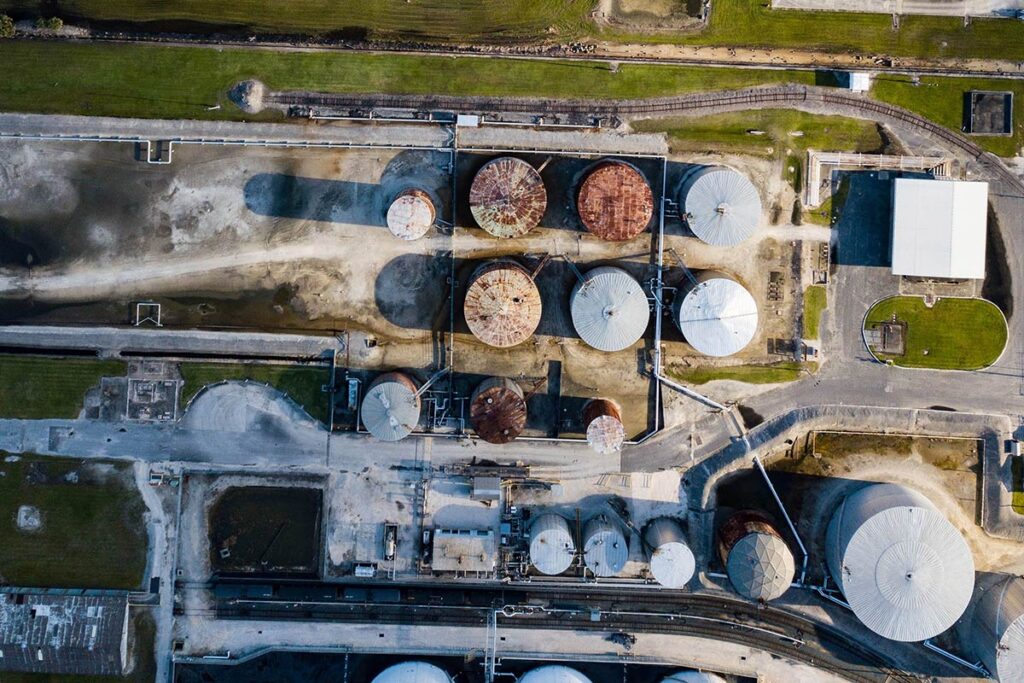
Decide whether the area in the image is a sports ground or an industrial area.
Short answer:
industrial area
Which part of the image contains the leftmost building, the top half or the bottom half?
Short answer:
bottom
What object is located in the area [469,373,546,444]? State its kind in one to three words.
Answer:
storage tank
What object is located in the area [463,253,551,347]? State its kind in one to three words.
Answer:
storage tank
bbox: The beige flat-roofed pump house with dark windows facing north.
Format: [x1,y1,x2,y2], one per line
[433,530,494,571]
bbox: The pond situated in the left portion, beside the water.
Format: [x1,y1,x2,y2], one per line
[214,486,322,572]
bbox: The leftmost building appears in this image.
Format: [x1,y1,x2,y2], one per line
[0,581,135,675]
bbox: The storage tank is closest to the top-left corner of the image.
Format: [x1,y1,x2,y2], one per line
[387,186,451,240]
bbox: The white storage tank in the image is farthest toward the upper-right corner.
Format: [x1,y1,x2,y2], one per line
[676,163,762,247]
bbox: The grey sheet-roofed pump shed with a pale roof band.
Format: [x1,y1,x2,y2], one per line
[474,473,500,500]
